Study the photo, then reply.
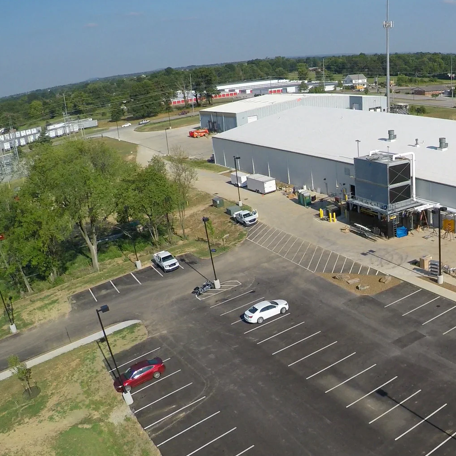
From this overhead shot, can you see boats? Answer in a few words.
No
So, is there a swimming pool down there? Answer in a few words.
No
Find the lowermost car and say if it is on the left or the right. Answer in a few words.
left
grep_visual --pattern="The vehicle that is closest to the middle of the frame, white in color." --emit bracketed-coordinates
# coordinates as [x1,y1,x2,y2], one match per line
[233,209,258,226]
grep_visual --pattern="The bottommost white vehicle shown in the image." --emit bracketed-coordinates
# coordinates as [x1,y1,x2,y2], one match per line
[243,299,290,324]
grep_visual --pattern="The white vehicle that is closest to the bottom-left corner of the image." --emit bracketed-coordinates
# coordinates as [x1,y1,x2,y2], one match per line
[151,250,179,271]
